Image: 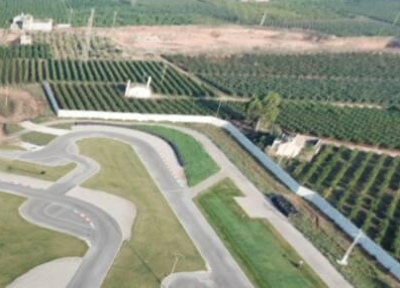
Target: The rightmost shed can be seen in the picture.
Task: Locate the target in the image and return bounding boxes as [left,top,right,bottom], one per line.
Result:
[271,124,322,158]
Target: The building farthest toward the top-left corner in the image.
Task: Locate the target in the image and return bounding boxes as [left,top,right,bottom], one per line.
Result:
[12,13,30,31]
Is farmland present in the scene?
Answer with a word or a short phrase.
Yes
